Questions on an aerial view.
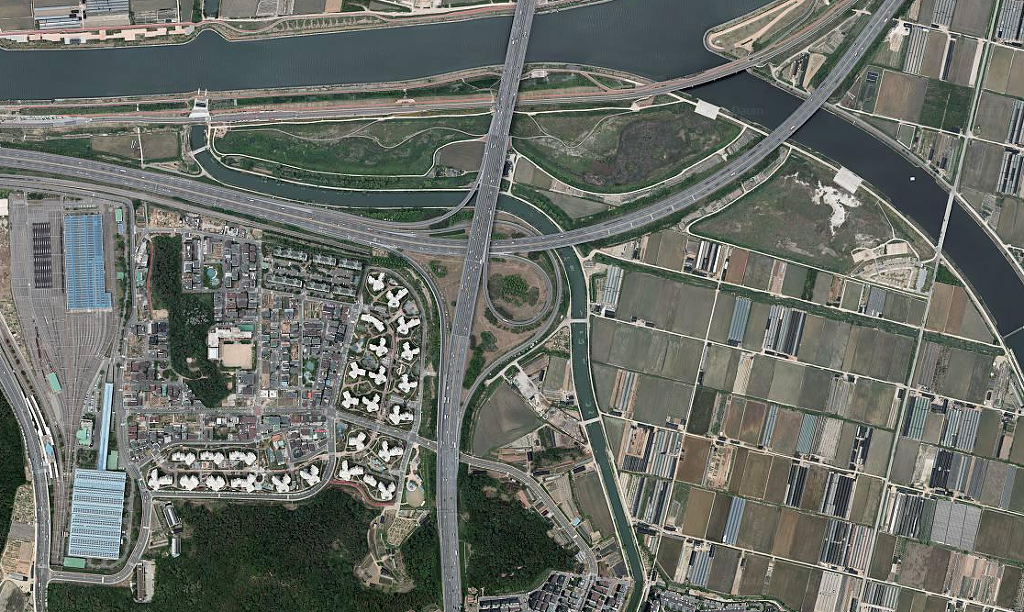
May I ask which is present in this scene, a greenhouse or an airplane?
greenhouse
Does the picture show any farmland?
Yes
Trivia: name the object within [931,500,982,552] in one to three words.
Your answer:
greenhouse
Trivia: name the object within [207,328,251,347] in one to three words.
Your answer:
building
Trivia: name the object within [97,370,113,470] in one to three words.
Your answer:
shed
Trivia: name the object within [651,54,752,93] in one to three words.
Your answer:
bridge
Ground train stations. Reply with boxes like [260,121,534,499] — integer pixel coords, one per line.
[25,395,59,478]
